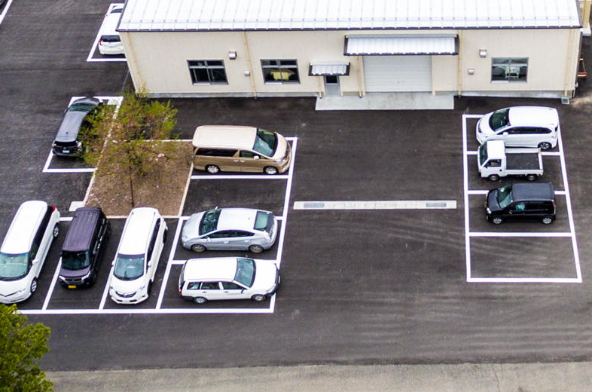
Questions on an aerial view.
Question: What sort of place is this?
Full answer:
The area seen from above is a parking lot.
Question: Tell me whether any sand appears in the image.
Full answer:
No, sand can't be seen anywhere here.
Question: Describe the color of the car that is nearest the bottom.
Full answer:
In this view, the car that is nearest the bottom is white.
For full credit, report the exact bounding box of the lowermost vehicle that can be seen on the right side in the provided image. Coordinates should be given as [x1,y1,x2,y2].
[484,180,559,225]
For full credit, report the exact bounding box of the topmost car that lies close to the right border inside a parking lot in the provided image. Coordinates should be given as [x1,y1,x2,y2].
[474,106,568,151]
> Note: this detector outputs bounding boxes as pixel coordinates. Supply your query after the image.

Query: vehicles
[0,195,59,298]
[108,200,168,298]
[484,180,559,225]
[173,254,285,304]
[94,0,126,52]
[188,125,294,175]
[49,86,102,151]
[474,106,568,151]
[475,138,546,181]
[178,205,281,253]
[53,204,109,284]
